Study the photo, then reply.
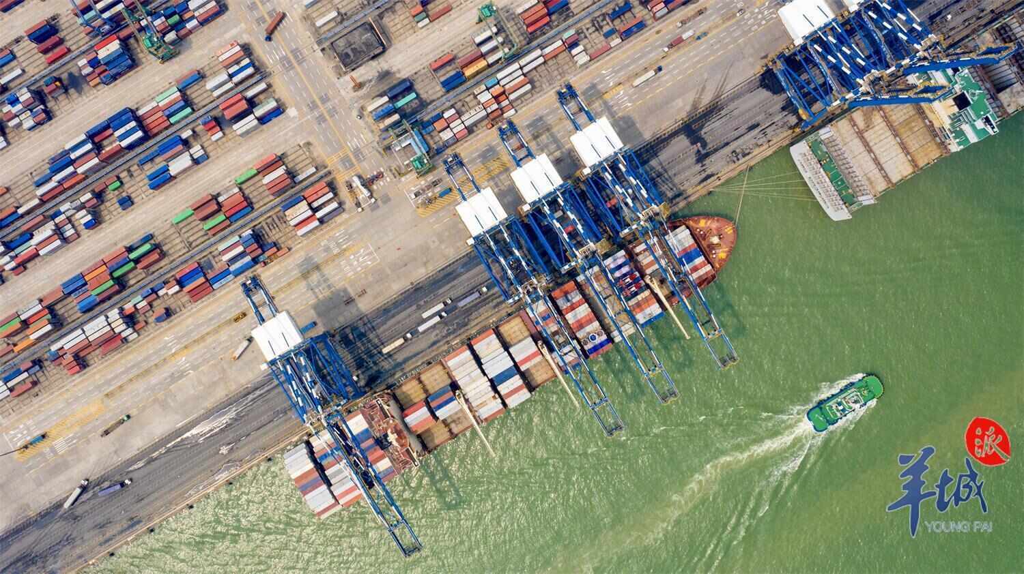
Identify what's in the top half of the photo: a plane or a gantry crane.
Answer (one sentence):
Looking in the top half of the photo, you will find a gantry crane.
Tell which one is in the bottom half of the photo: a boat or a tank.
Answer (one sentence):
Looking in the bottom half of the photo, you will find a boat.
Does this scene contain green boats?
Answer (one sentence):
Yes, there's a green boat down there.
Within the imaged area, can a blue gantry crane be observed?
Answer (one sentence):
Yes, this view includes a blue gantry crane.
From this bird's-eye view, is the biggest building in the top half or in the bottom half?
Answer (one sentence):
You can find the biggest building in the top half.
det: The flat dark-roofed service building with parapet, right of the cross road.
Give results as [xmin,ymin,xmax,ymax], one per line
[332,18,390,70]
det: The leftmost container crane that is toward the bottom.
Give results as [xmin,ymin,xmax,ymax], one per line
[237,279,423,559]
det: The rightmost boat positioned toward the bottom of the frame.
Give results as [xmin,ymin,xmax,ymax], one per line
[806,379,883,431]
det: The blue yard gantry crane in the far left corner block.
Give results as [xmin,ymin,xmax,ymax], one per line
[65,0,117,39]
